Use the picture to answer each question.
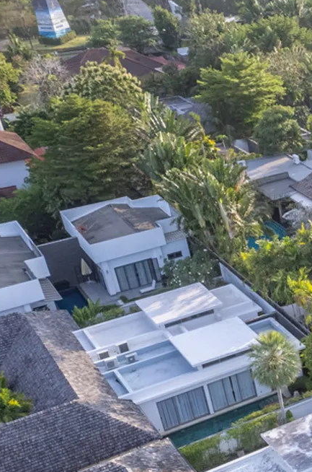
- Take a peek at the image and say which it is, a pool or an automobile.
pool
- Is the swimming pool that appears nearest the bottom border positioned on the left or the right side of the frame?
right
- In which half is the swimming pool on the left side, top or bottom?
bottom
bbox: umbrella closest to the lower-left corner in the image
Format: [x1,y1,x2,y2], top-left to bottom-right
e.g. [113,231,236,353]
[79,255,92,282]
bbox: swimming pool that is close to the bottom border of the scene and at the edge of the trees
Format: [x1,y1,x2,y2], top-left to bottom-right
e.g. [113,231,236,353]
[163,390,302,451]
